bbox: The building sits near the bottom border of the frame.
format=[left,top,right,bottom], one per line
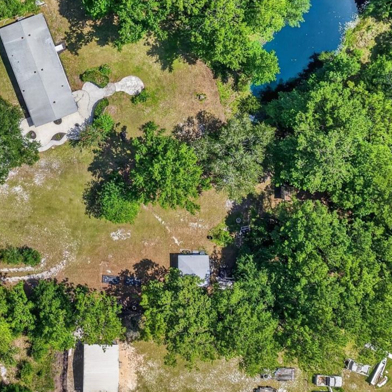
[83,339,118,392]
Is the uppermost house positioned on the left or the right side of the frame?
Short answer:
left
